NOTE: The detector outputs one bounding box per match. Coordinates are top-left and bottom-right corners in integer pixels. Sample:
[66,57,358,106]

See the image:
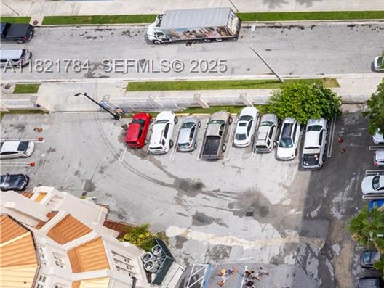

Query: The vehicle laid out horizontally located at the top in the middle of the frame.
[144,7,239,49]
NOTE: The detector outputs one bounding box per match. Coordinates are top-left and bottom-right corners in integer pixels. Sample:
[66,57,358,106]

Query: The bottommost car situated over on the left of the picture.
[0,171,34,192]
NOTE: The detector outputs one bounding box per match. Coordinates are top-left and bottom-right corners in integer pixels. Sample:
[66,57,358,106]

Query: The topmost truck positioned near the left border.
[0,22,31,45]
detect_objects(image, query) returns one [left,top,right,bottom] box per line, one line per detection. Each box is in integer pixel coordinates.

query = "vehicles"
[0,46,32,70]
[178,119,204,154]
[233,110,261,149]
[0,171,34,192]
[128,115,157,150]
[254,116,283,155]
[361,172,384,196]
[373,130,384,147]
[370,151,384,170]
[148,113,180,155]
[144,7,239,49]
[276,119,304,161]
[0,22,31,45]
[200,113,235,161]
[301,120,329,170]
[368,195,384,212]
[0,137,40,162]
[360,248,384,268]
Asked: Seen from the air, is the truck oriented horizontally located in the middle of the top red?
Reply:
No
